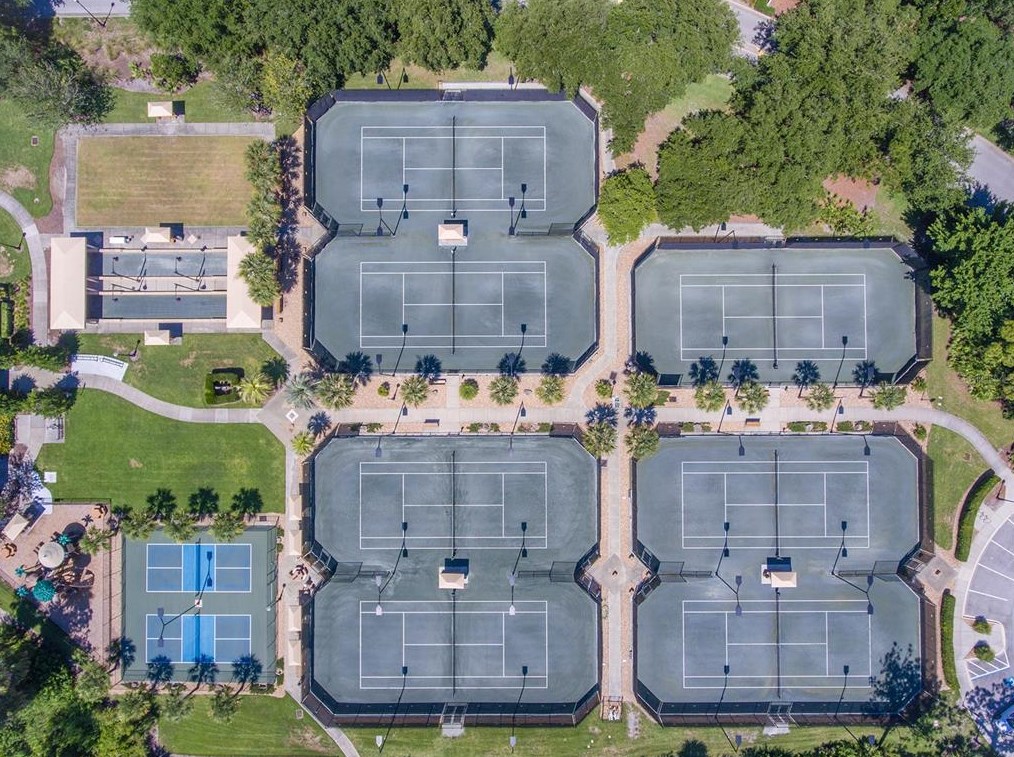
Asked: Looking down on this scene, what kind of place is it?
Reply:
sports ground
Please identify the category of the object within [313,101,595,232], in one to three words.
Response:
tennis court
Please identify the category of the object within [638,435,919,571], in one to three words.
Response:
tennis court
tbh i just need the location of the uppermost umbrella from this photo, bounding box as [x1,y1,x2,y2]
[41,539,68,567]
